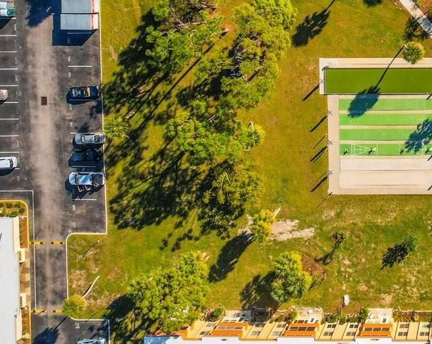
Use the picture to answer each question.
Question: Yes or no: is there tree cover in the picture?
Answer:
Yes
